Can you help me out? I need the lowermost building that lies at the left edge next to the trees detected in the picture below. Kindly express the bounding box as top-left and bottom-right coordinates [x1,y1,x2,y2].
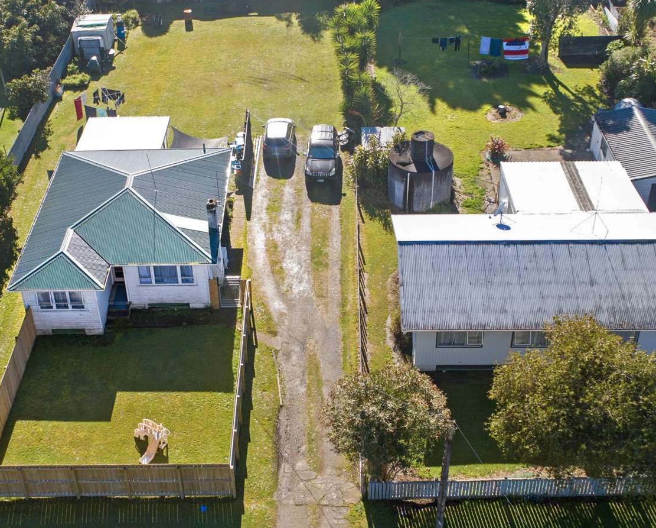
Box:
[8,145,232,333]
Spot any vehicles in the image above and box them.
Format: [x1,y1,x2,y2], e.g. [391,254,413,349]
[262,116,296,159]
[301,123,339,183]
